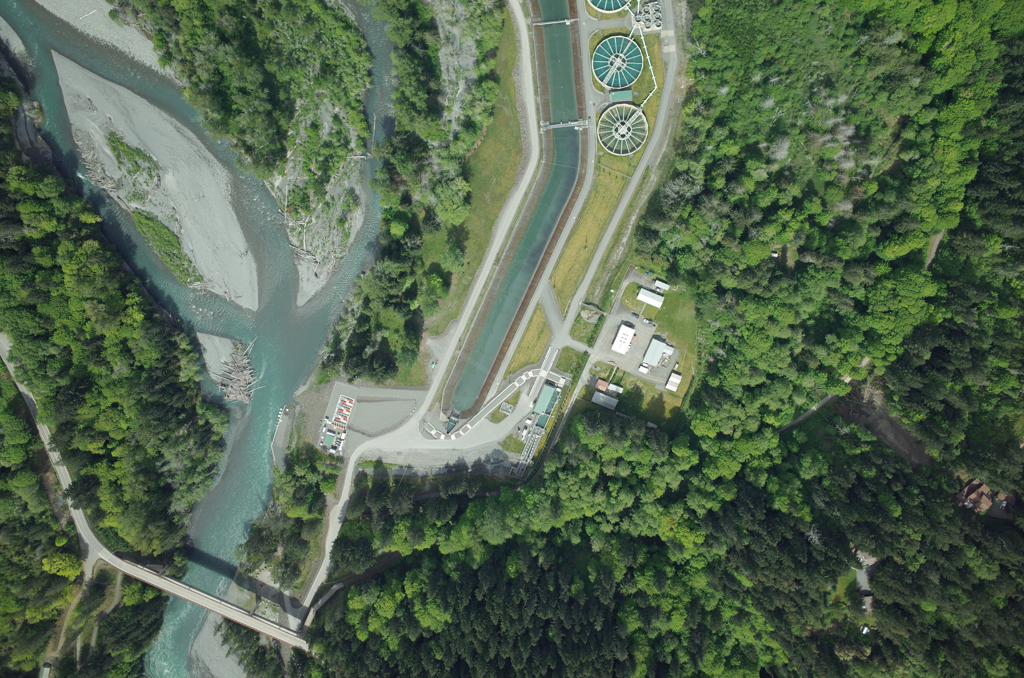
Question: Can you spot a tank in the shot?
Yes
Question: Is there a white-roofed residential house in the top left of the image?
No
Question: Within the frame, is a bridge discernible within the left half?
Yes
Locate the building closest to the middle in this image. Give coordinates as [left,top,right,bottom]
[533,383,554,415]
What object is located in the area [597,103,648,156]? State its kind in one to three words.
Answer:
storage tank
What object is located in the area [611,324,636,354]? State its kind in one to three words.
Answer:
building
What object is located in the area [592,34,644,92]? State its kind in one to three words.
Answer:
storage tank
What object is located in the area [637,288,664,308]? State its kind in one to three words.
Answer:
house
